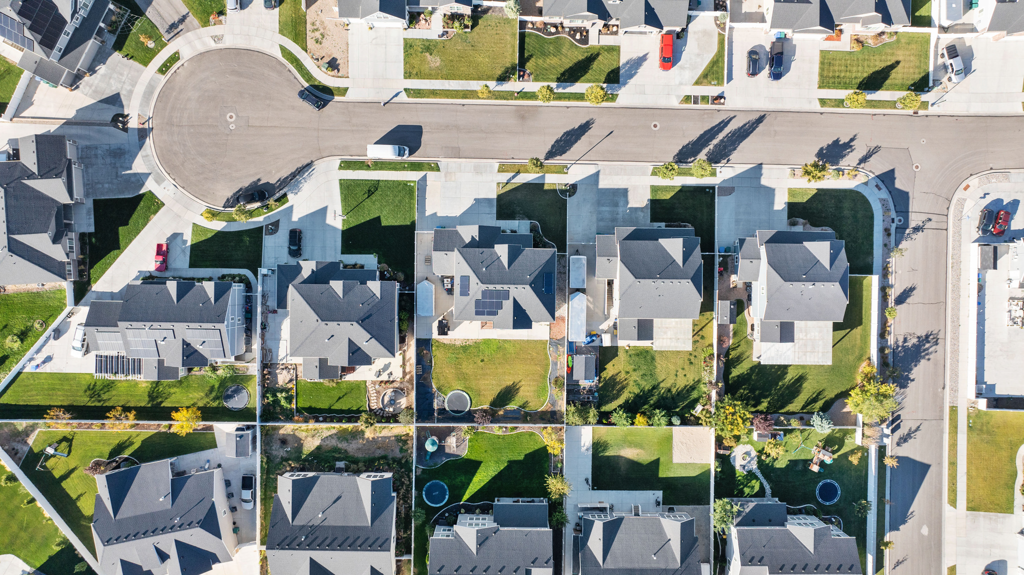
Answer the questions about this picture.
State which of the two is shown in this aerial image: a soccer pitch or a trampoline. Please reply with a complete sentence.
It is a trampoline that can be seen here.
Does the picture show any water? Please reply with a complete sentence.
No, no water is visible.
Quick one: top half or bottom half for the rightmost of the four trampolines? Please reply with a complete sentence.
It is in the bottom half that the rightmost of the four trampolines appears.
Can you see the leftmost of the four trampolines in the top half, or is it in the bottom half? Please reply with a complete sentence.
The bottom half of the photo is where the leftmost of the four trampolines is.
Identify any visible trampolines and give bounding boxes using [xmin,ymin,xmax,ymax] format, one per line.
[222,383,251,411]
[422,479,449,506]
[444,388,471,415]
[814,479,841,505]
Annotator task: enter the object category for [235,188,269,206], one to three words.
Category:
car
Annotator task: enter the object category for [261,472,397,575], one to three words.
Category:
house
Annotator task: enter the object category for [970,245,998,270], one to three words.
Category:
shed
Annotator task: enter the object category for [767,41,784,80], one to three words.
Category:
vehicle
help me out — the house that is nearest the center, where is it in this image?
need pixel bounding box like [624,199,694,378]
[431,224,557,330]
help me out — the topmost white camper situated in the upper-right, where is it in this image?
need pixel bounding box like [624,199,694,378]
[923,0,951,28]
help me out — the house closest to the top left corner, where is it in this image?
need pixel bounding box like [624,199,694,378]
[0,0,124,89]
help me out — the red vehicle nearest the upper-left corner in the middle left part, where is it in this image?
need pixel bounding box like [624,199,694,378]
[152,241,170,273]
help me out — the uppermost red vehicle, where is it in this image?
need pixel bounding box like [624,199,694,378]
[658,33,674,71]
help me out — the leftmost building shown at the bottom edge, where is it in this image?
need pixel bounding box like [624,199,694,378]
[89,459,239,575]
